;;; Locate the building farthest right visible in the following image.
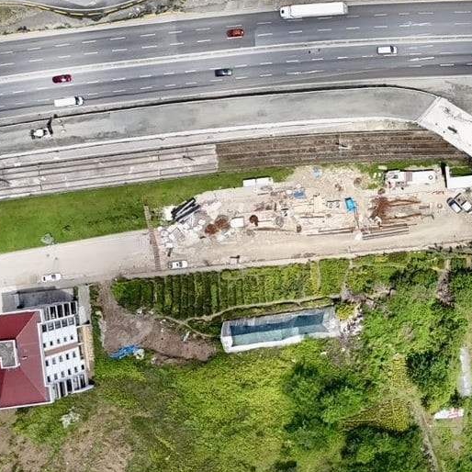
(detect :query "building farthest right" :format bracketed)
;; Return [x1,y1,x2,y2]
[446,167,472,189]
